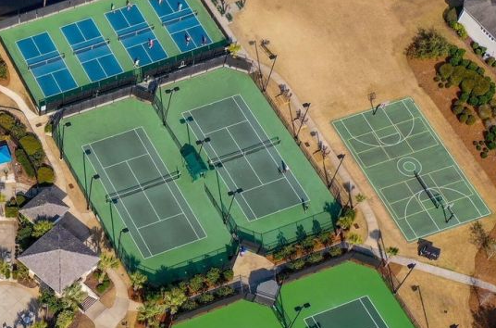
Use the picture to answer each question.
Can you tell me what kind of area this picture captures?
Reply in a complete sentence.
This image shows a sports ground.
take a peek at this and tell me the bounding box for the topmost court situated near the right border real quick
[330,94,496,242]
